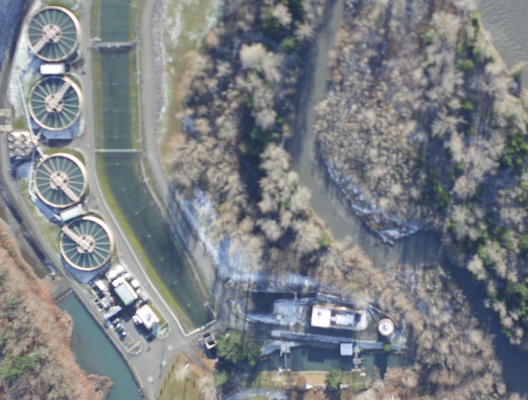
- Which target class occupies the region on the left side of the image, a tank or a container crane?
tank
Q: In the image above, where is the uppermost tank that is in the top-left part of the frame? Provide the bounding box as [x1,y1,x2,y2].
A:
[26,6,82,62]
